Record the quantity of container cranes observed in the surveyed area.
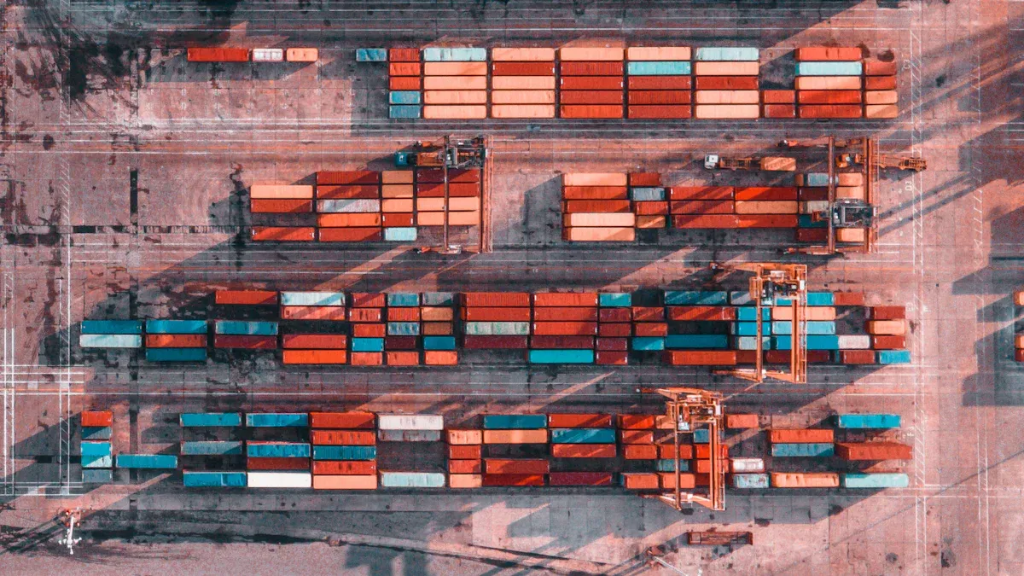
4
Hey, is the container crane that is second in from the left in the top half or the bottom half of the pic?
bottom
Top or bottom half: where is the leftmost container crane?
top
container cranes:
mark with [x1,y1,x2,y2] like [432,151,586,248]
[713,261,806,383]
[782,135,879,254]
[412,135,494,254]
[634,383,725,511]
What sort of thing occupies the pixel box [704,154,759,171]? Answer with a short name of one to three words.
vehicle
